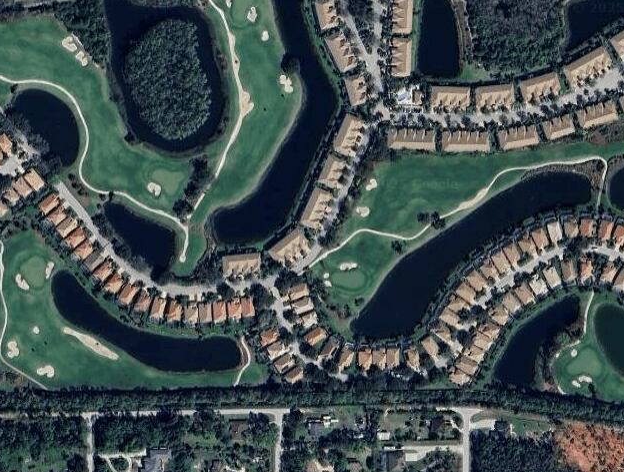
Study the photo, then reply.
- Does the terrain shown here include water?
Yes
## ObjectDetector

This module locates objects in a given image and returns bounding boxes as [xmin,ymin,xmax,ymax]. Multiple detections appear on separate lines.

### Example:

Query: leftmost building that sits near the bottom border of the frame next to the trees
[145,451,171,472]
